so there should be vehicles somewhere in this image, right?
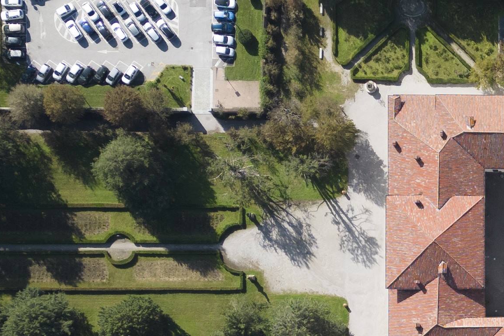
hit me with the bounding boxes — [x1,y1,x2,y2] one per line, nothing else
[1,0,23,8]
[141,0,159,21]
[211,47,236,57]
[121,61,140,87]
[65,18,83,40]
[142,19,161,44]
[211,8,237,21]
[155,0,173,18]
[212,0,237,9]
[93,63,111,86]
[52,60,69,83]
[111,0,127,18]
[4,47,27,59]
[2,34,25,47]
[211,21,237,33]
[128,0,146,23]
[112,21,128,43]
[97,0,116,23]
[78,14,95,37]
[2,22,25,33]
[211,33,236,45]
[55,1,78,17]
[36,61,54,84]
[156,17,176,42]
[20,61,39,85]
[106,64,123,87]
[81,0,99,24]
[78,62,97,87]
[93,17,112,41]
[66,61,84,84]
